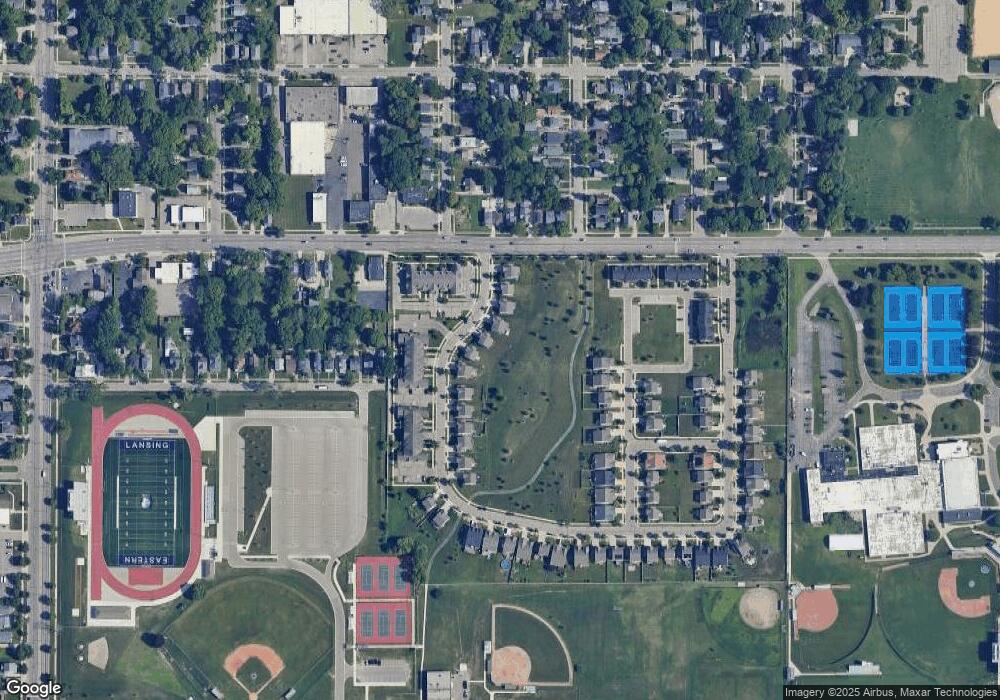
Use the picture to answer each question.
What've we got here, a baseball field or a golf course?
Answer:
baseball field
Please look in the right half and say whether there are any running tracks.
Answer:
No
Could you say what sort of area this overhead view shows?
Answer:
residential area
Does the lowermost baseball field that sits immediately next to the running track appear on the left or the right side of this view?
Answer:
left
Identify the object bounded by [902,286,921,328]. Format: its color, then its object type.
blue tennis court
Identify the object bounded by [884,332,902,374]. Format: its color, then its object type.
blue tennis court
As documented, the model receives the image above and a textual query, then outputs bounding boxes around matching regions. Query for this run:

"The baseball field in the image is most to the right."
[938,564,991,619]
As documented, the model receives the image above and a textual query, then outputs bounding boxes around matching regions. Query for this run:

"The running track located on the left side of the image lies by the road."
[92,403,202,600]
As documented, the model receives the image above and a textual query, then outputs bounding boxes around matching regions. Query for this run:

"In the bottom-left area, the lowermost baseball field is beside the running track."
[166,576,333,700]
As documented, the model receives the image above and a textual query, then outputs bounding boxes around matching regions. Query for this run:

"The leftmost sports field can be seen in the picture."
[104,437,190,568]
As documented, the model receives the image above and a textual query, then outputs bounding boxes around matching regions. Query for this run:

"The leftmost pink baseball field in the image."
[794,588,839,633]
